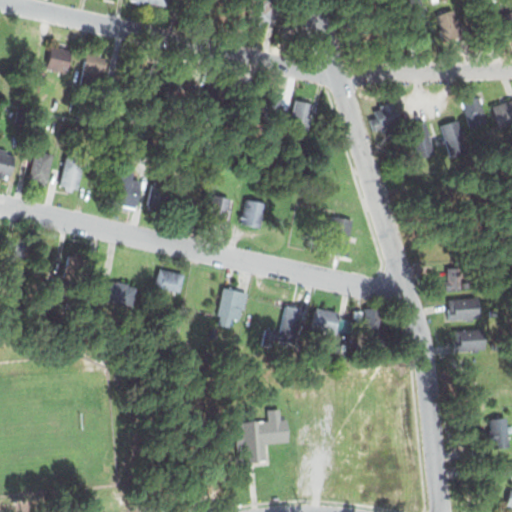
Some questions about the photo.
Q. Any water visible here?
No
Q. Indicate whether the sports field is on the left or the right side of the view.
left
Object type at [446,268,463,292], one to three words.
house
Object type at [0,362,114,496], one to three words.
sports field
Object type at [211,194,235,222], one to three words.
house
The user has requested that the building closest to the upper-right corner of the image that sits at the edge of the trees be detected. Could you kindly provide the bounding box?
[438,10,460,42]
